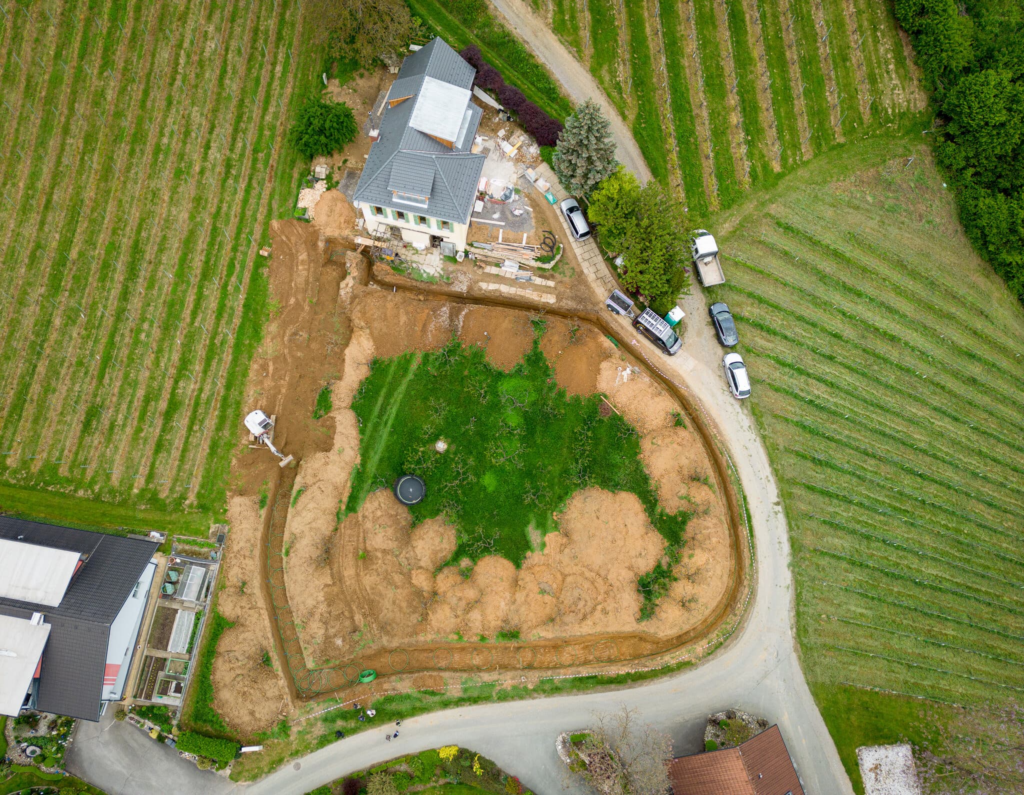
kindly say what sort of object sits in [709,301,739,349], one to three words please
car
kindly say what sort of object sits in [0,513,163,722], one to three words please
house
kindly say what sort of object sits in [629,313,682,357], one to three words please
van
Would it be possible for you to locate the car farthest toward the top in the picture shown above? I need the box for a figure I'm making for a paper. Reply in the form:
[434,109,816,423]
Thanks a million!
[559,197,592,244]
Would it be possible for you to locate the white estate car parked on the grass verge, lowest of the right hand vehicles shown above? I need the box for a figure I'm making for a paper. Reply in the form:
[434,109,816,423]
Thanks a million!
[723,353,750,400]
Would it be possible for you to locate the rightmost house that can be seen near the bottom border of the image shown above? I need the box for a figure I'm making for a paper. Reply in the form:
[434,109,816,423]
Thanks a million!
[673,720,805,795]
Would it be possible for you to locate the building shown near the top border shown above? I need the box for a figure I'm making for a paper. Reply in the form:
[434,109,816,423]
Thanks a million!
[349,34,486,254]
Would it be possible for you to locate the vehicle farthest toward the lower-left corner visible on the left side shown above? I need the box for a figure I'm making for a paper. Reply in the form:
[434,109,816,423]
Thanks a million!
[247,416,295,475]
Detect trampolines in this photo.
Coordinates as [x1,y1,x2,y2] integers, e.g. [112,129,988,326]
[393,473,426,505]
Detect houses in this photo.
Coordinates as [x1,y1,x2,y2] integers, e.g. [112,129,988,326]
[349,34,486,254]
[673,720,805,795]
[0,513,163,722]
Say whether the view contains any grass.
Yes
